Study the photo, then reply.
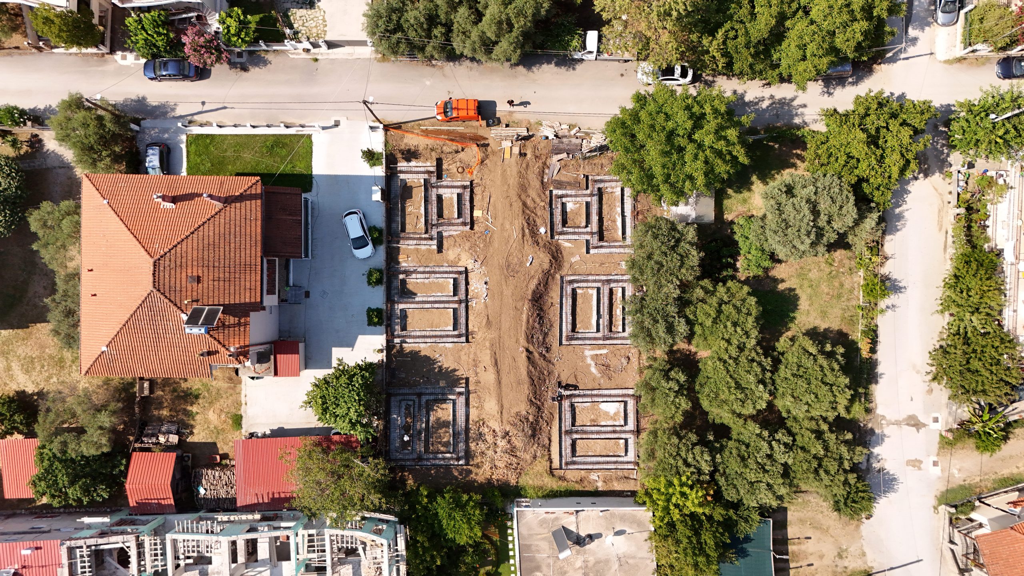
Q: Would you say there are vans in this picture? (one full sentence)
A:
Yes, this view includes a van.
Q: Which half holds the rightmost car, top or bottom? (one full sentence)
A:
The top half of the photo is where the rightmost car is.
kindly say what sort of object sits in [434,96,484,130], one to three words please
van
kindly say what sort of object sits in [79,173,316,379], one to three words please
house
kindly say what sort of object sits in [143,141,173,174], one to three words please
car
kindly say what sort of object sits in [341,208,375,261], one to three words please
car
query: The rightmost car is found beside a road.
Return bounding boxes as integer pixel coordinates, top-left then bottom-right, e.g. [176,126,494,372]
[992,53,1024,81]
